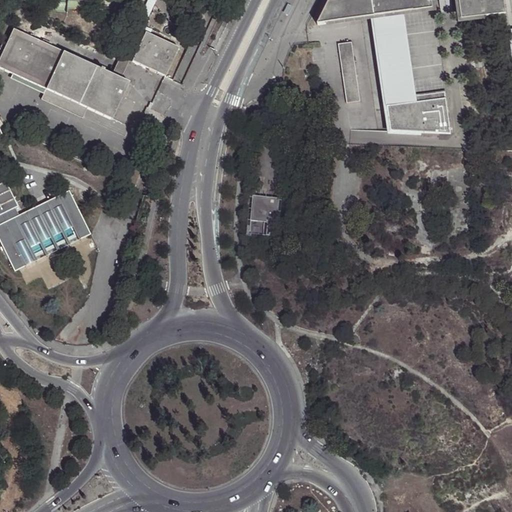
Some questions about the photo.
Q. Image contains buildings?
Yes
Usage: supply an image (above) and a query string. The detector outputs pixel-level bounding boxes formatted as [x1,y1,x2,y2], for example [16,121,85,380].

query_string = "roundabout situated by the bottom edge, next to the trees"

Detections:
[95,314,304,512]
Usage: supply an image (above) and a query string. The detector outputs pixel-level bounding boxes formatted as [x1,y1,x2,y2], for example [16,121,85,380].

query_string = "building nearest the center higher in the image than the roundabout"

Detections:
[246,195,280,235]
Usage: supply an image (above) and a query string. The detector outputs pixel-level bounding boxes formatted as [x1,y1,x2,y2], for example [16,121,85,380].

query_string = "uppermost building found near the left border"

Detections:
[0,28,184,136]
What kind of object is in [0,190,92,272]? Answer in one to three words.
building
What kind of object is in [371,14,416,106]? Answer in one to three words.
building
